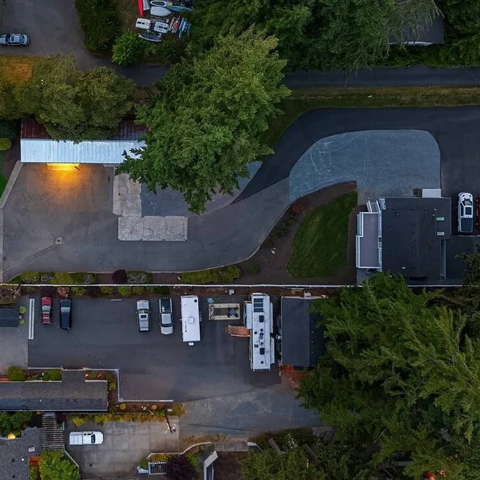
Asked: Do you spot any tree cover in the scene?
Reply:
Yes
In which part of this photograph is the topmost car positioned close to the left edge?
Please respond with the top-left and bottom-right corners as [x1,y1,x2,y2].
[0,32,30,47]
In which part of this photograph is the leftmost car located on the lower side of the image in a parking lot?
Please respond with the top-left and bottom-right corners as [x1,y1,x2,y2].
[39,296,53,324]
